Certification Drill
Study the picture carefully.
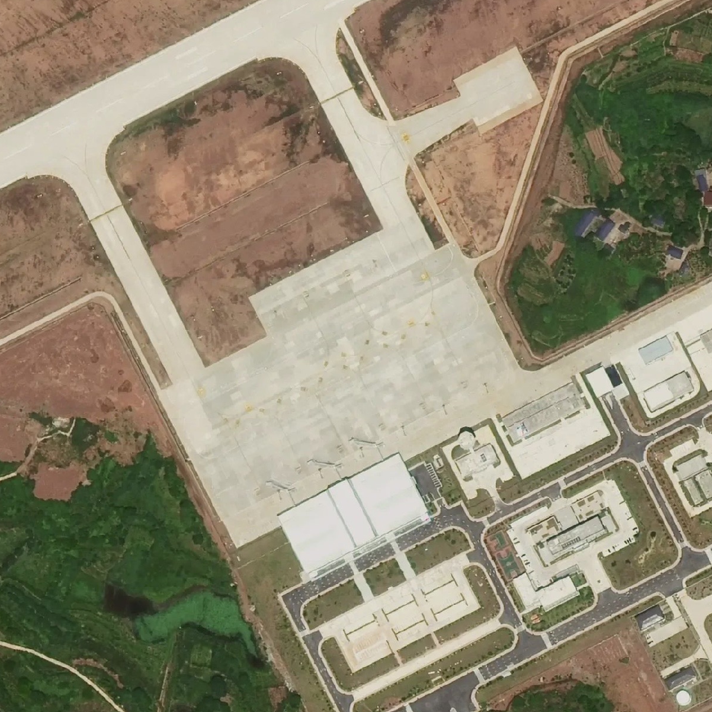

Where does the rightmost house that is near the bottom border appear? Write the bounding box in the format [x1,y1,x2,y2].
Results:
[664,665,697,691]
